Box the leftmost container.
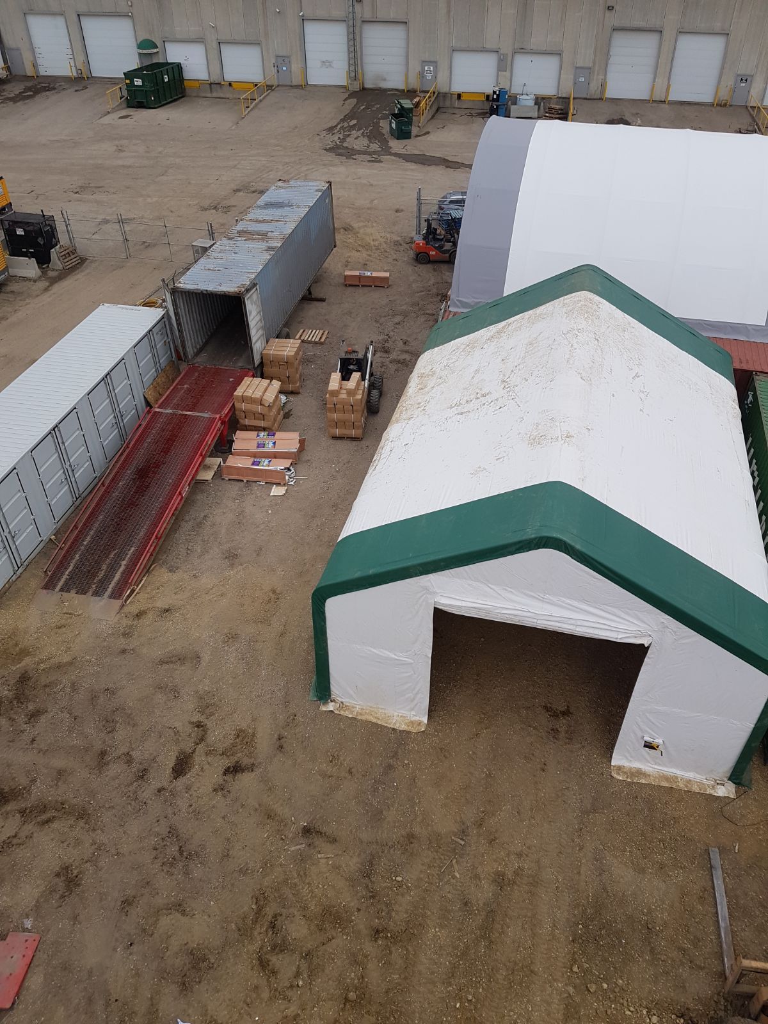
[0,302,174,585]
